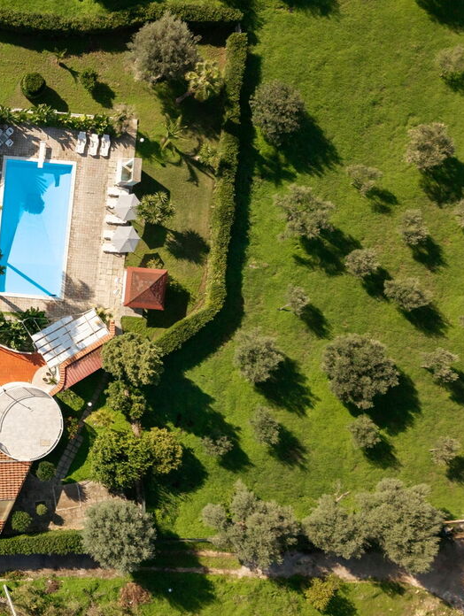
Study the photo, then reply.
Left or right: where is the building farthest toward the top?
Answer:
left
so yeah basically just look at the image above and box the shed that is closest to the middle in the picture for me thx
[118,267,167,310]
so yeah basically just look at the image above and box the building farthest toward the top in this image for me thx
[111,158,142,187]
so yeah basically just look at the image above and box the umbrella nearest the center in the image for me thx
[111,227,140,253]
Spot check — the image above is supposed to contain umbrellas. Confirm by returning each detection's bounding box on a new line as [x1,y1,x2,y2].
[111,194,141,221]
[111,227,140,253]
